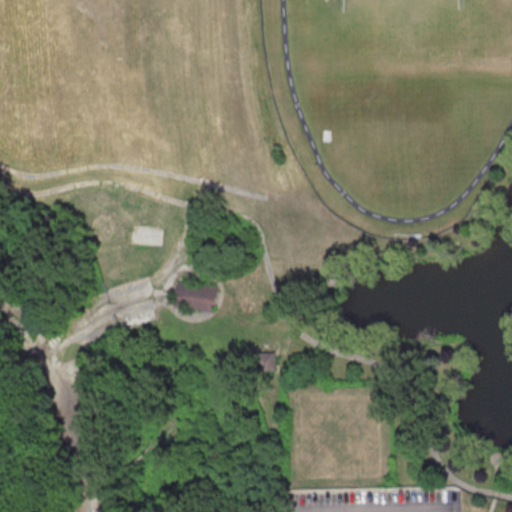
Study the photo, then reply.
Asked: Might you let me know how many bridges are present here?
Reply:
0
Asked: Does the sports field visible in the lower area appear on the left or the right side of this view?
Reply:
right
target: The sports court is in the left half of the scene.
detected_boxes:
[132,226,164,248]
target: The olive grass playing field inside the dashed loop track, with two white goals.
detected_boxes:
[286,0,512,219]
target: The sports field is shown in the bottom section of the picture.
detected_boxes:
[288,386,387,481]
